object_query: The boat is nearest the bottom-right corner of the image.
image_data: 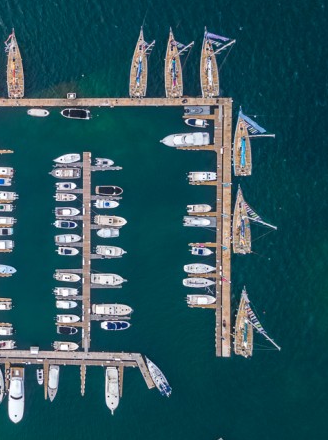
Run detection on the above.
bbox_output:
[231,288,275,359]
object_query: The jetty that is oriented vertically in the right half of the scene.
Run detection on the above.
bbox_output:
[176,105,231,357]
